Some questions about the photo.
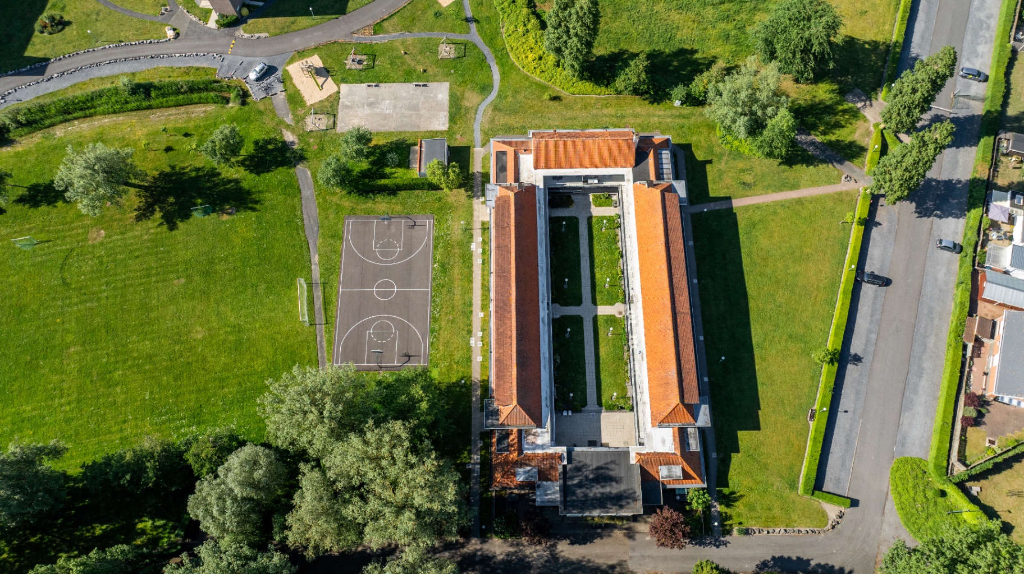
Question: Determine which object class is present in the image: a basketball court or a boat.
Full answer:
The image shows a basketball court.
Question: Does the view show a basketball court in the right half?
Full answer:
No, there's no basketball court to be seen in the right half.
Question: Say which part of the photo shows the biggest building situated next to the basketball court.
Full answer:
The biggest building situated next to the basketball court is located in the center region of the scene.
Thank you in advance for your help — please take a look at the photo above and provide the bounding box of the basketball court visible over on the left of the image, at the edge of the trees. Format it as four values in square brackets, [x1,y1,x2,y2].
[331,216,435,371]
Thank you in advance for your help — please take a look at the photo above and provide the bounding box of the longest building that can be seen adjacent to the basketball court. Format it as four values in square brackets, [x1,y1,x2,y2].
[483,127,709,518]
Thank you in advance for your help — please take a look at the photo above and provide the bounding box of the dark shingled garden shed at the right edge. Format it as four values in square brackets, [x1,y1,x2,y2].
[995,130,1024,160]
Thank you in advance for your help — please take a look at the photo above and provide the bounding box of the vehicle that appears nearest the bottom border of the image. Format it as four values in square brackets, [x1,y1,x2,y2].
[857,271,886,287]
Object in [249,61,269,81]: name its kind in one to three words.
car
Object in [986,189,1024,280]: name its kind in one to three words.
house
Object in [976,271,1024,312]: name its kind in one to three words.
building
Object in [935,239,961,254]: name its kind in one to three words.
car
